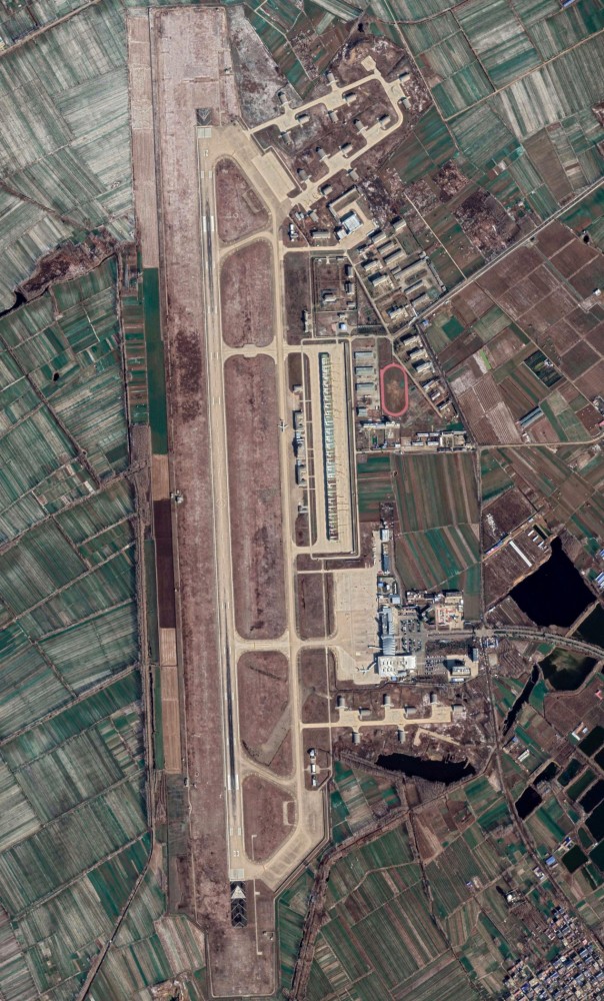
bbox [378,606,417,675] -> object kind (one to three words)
building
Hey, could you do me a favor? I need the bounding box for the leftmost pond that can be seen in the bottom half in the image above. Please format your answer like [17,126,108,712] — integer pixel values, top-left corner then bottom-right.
[377,753,476,785]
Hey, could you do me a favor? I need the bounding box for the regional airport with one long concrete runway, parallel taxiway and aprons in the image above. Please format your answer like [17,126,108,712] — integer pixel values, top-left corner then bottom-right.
[150,7,453,997]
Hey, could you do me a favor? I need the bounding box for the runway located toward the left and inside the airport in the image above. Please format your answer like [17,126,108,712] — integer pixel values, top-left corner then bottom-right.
[196,127,245,881]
